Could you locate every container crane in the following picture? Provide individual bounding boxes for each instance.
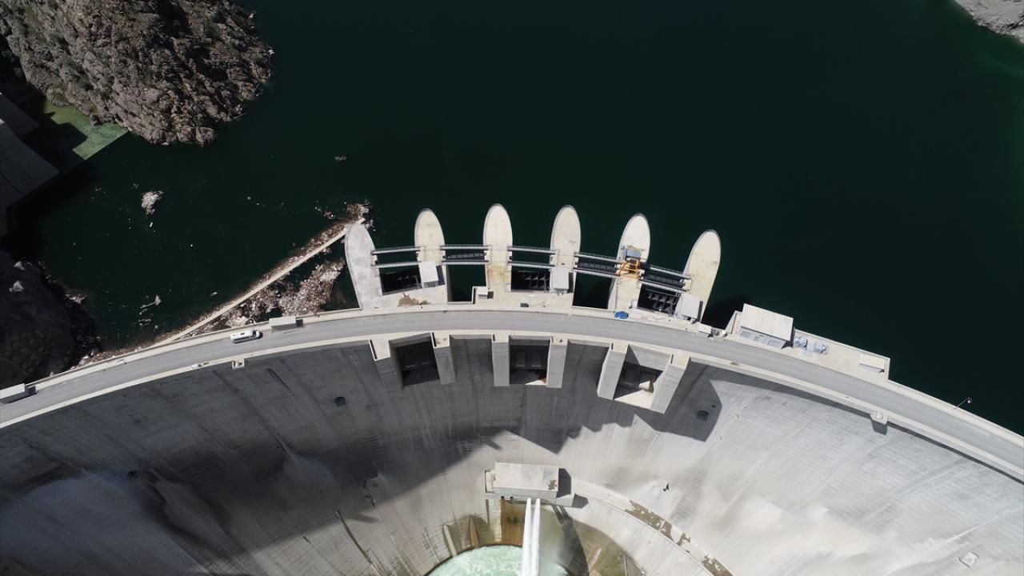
[617,245,645,284]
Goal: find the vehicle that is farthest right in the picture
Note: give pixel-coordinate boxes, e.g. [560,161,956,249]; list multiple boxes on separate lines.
[228,328,263,344]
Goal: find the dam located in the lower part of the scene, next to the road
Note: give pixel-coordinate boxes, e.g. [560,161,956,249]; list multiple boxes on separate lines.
[0,203,1024,576]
